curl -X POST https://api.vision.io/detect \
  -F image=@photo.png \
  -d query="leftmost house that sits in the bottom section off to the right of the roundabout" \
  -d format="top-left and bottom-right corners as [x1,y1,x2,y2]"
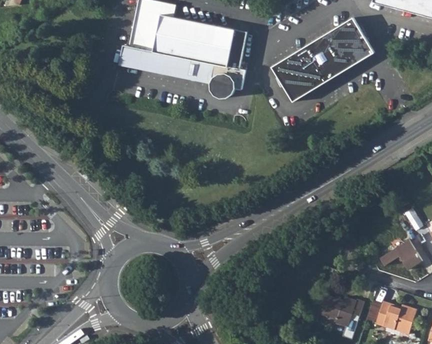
[322,294,365,328]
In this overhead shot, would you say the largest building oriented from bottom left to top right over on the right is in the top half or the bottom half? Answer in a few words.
top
